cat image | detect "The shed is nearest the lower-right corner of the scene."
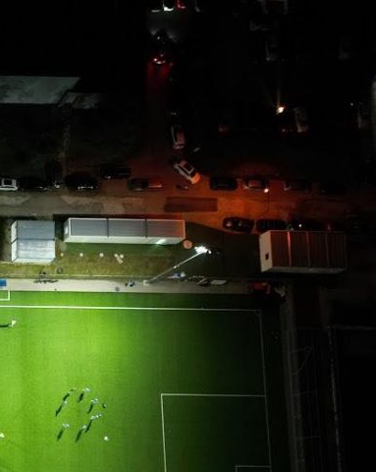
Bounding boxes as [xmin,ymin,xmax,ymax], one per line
[259,226,354,274]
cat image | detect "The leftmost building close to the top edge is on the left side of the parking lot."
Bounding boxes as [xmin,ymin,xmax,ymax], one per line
[0,0,76,106]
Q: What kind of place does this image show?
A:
sports ground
